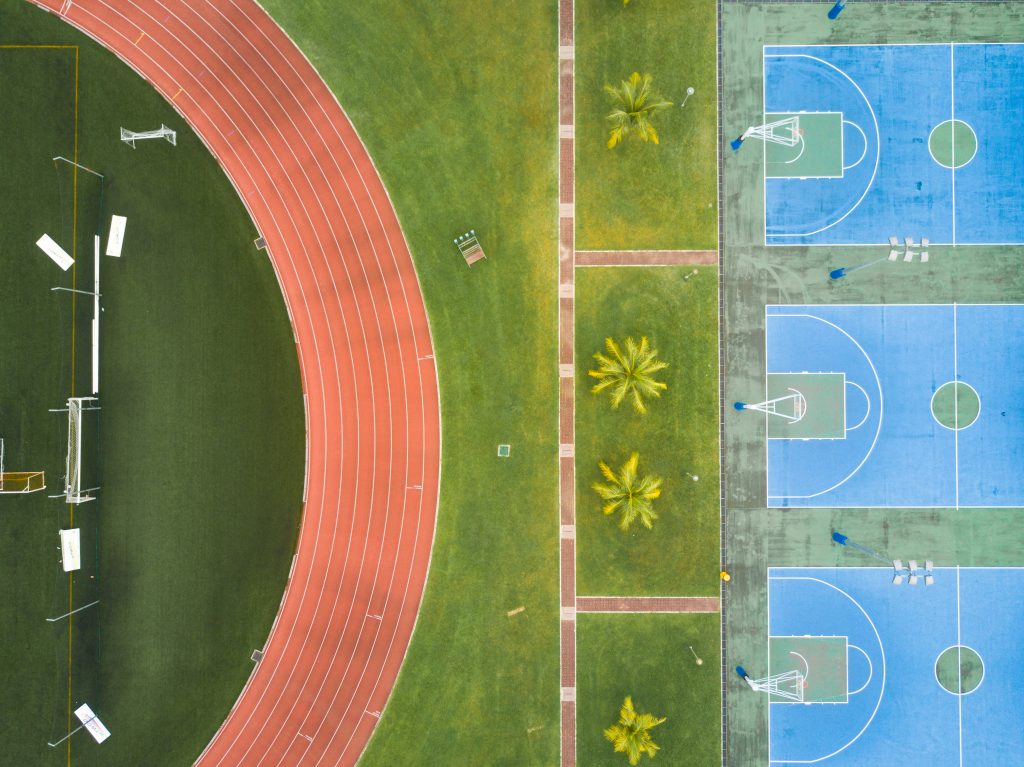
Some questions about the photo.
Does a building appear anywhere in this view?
No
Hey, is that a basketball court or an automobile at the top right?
basketball court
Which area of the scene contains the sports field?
left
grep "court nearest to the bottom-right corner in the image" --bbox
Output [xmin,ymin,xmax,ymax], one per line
[768,566,1024,767]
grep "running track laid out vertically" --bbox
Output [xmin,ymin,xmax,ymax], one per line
[25,0,441,767]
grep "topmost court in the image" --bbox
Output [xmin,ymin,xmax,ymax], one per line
[763,42,1024,247]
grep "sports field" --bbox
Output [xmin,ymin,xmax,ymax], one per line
[0,0,306,767]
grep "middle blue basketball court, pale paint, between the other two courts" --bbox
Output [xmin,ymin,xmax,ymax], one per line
[766,302,1024,509]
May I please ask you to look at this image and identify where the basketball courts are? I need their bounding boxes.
[766,302,1024,509]
[768,566,1024,767]
[763,42,1024,247]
